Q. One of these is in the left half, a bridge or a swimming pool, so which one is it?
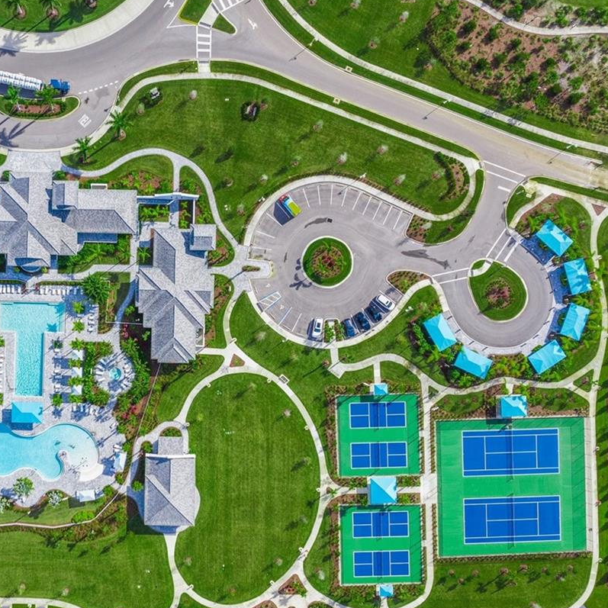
swimming pool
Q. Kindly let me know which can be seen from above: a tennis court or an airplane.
tennis court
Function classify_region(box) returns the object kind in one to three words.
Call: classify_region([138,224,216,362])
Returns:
building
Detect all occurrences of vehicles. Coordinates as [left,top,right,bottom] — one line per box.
[312,317,322,337]
[277,193,302,219]
[376,294,395,311]
[353,314,370,333]
[365,305,381,324]
[341,318,355,341]
[0,79,69,97]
